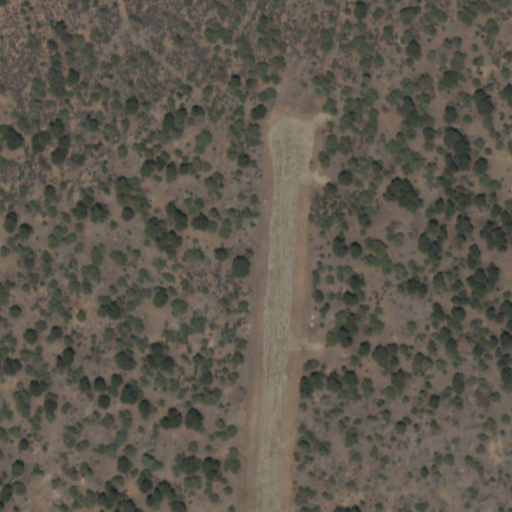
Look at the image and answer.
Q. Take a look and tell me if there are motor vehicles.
No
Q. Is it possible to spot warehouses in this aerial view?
No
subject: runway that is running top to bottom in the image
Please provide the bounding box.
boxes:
[240,110,332,512]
